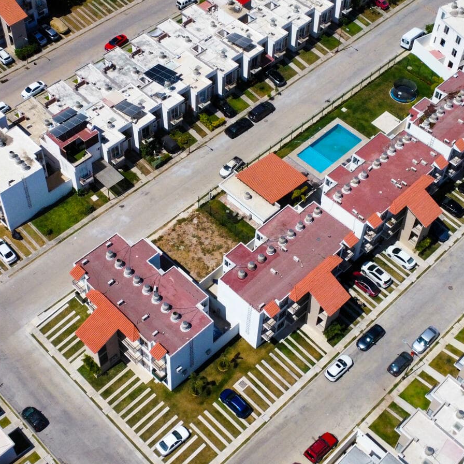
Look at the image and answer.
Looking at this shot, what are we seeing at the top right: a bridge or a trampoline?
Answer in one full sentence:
Looking at the top right, you will find a trampoline.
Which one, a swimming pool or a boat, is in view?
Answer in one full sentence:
There is a swimming pool in the scene.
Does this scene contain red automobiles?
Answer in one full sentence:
Yes, a red automobile is visible in the scene.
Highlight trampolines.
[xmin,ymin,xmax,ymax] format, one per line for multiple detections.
[388,74,417,103]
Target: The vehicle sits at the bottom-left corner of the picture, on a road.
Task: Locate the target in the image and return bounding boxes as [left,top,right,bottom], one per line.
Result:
[21,405,51,436]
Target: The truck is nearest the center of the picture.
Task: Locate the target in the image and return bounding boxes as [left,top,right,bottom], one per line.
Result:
[215,154,248,179]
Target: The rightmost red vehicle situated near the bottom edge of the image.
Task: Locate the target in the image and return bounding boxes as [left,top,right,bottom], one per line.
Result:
[303,431,338,464]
